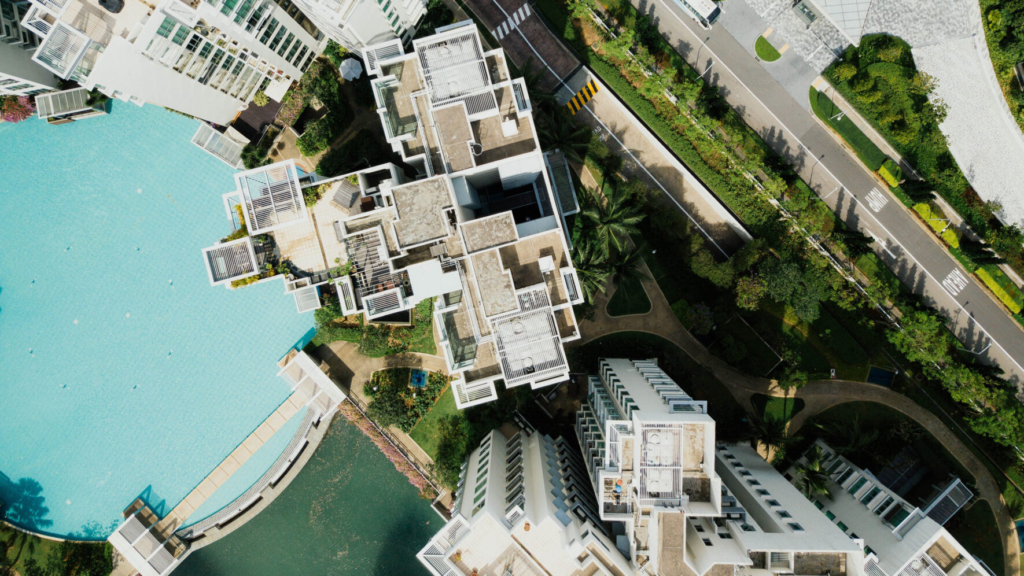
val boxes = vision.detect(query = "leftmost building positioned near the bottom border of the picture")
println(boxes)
[108,496,198,576]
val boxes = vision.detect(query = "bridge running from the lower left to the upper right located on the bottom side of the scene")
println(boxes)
[163,379,320,530]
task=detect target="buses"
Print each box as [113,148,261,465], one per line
[675,0,725,29]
